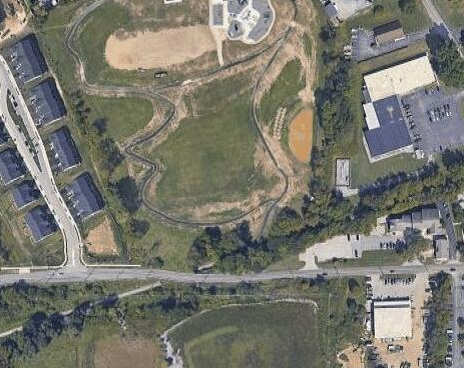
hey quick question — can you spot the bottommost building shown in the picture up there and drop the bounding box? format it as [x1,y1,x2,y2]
[374,308,412,339]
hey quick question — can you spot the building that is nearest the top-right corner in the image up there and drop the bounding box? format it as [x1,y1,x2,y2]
[371,18,407,47]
